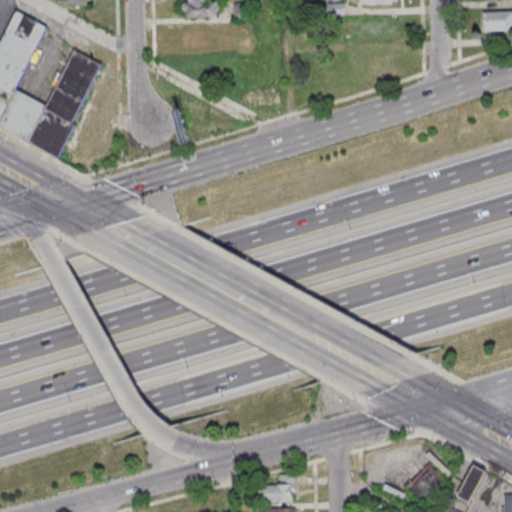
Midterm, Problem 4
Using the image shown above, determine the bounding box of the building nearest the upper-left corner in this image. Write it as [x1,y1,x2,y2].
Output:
[0,10,48,94]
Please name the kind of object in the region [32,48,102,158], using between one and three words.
building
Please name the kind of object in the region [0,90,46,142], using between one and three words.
building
